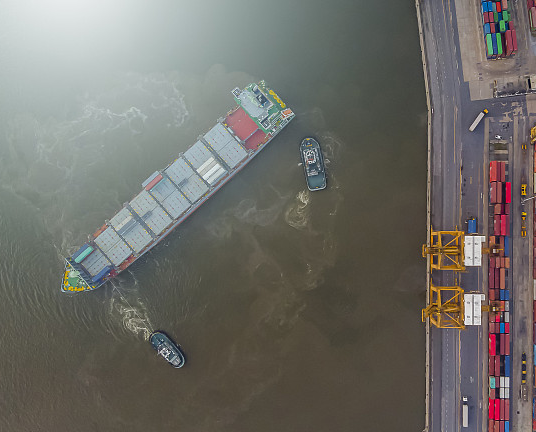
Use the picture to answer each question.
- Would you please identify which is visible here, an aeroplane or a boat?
boat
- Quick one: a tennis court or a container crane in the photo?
container crane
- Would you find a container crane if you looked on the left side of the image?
No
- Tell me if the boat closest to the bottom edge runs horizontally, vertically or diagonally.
diagonally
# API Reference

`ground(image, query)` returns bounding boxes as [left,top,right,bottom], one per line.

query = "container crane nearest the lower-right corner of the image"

[419,276,502,327]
